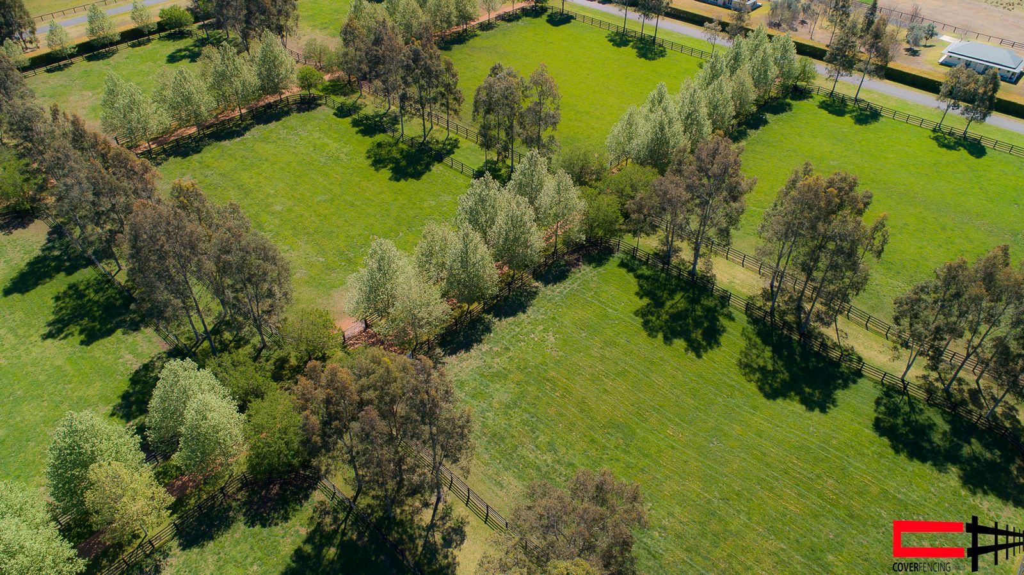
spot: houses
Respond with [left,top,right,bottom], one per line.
[699,0,758,11]
[937,35,1024,84]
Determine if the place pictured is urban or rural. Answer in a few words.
rural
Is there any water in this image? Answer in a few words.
No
